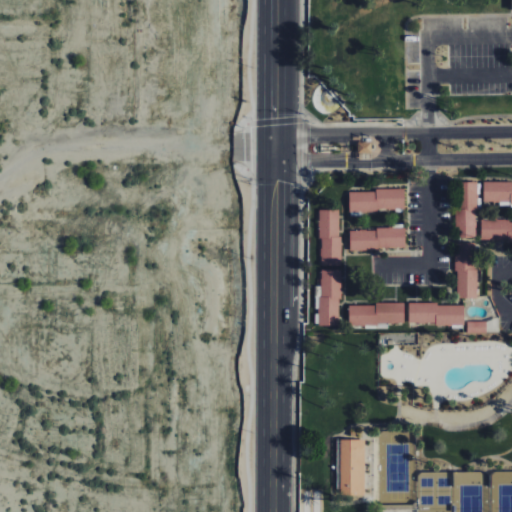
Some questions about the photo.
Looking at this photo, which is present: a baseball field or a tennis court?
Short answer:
tennis court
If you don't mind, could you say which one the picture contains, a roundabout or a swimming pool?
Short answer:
swimming pool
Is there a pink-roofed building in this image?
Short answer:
Yes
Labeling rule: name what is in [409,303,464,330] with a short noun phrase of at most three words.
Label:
building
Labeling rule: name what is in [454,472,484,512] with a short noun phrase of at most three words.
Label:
tennis court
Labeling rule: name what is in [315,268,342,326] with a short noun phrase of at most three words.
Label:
building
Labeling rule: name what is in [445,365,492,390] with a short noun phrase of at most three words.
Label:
swimming pool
